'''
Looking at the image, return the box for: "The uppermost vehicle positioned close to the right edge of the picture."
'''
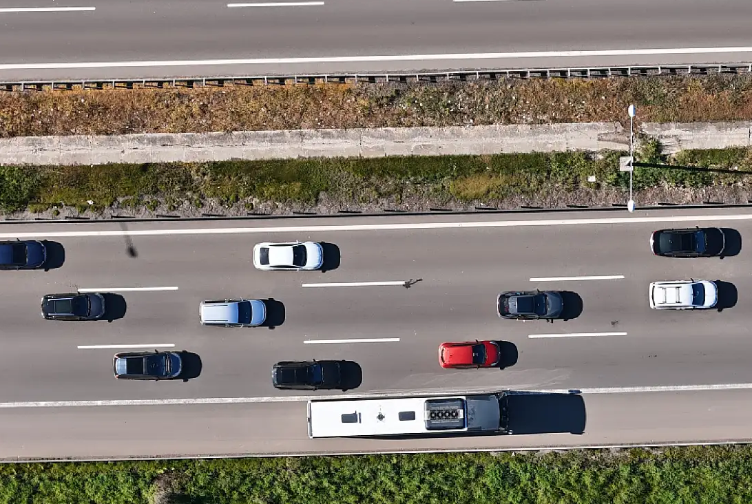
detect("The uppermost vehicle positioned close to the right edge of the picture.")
[650,224,725,259]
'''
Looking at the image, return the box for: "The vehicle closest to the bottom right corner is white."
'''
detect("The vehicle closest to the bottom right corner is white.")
[649,277,718,312]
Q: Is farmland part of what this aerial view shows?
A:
No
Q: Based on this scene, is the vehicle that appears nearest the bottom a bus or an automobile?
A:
bus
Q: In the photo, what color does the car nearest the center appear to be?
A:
white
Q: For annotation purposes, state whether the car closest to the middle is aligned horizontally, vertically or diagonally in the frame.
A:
horizontally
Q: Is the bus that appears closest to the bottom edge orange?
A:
No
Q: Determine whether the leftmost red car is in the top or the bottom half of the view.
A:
bottom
